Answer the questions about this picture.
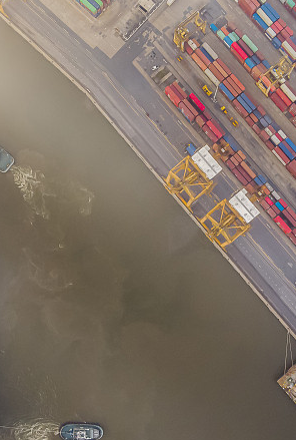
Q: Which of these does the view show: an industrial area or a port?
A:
port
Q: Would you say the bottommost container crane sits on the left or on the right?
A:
right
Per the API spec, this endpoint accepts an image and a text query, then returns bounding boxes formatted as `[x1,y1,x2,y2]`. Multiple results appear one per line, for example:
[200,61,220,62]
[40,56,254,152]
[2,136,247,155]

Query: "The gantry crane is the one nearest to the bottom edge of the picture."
[198,184,269,249]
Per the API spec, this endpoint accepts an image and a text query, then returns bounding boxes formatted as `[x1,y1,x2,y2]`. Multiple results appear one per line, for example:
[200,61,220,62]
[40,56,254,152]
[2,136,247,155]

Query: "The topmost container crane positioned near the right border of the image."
[253,59,296,102]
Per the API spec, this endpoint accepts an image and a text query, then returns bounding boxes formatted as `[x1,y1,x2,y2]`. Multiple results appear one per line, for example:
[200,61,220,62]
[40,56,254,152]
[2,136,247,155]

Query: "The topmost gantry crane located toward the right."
[170,12,208,53]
